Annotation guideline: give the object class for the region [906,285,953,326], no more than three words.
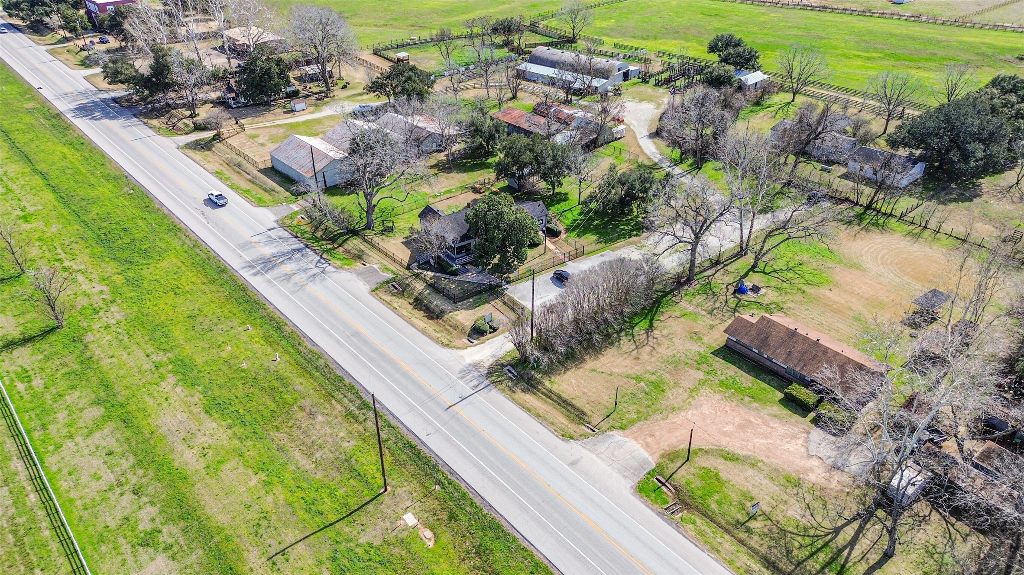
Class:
building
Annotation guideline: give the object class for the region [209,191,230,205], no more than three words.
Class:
vehicle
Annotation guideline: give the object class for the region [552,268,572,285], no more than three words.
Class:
car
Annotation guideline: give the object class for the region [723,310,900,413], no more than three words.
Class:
house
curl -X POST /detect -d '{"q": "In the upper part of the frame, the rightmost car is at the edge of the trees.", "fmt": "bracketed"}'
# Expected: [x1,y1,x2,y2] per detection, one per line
[808,189,826,204]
